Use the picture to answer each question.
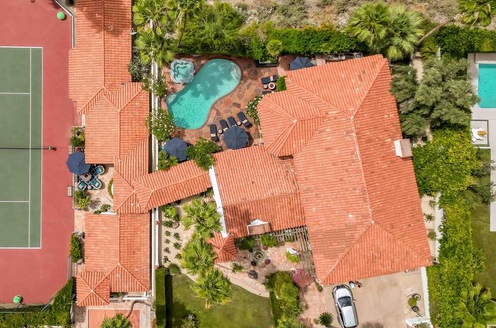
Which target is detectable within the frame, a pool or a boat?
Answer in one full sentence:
It is a pool that can be seen here.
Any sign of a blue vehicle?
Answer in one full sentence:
No, the scene contains no blue vehicle.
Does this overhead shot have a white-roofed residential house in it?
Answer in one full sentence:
No, I find no white-roofed residential house anywhere in the image.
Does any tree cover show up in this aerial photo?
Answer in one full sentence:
Yes, tree cover shows up in the scene.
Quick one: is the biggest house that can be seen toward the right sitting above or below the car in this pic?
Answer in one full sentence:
As seen from overhead, the biggest house that can be seen toward the right falls above the car in the picture.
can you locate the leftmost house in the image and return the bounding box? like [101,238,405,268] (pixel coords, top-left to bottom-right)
[69,0,150,307]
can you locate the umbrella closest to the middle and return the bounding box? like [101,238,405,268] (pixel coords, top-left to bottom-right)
[223,123,249,149]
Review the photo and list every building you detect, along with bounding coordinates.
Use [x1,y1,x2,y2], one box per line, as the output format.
[69,0,150,307]
[209,54,431,286]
